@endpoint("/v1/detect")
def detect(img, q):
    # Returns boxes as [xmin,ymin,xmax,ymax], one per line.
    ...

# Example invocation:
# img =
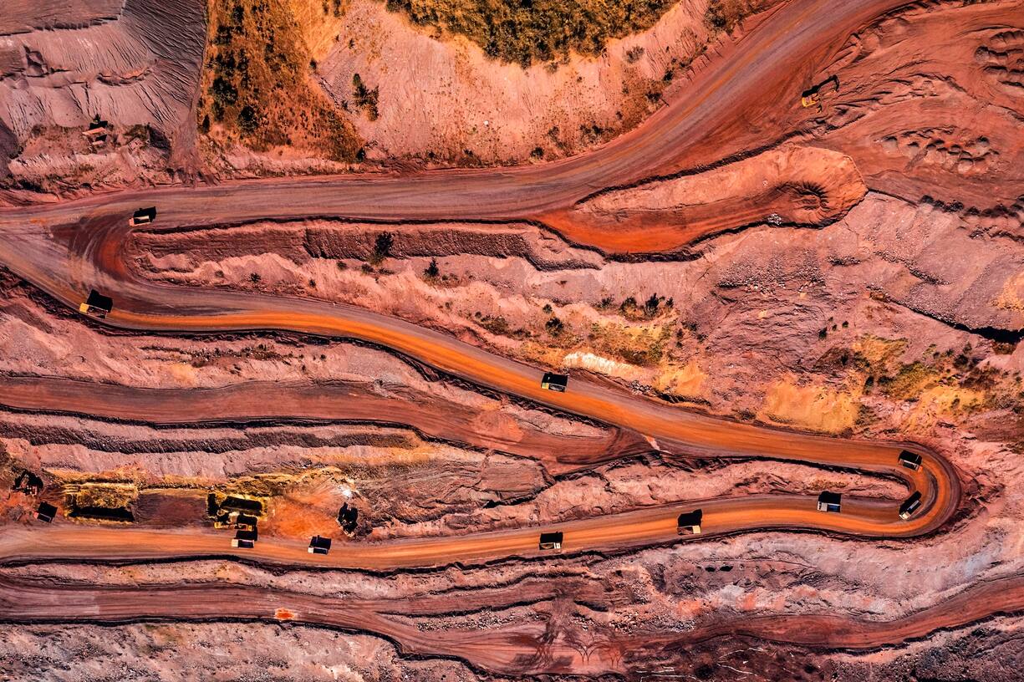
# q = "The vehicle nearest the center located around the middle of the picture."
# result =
[543,384,568,396]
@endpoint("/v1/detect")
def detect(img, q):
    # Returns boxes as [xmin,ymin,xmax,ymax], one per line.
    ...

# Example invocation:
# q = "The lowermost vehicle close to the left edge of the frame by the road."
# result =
[29,512,53,528]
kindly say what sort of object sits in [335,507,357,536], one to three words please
work vehicle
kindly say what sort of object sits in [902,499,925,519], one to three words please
vehicle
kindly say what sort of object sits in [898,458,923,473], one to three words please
vehicle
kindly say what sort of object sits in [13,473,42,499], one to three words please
work vehicle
